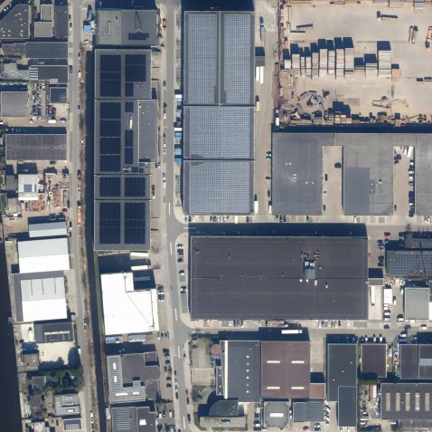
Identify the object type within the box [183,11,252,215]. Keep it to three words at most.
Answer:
building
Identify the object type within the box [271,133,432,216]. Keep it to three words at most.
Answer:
building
